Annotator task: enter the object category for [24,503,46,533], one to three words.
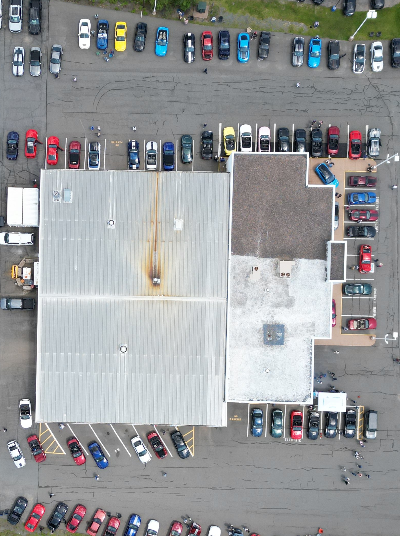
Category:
car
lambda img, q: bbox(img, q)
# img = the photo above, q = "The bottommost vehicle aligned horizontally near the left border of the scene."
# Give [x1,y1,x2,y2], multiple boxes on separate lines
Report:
[0,297,35,312]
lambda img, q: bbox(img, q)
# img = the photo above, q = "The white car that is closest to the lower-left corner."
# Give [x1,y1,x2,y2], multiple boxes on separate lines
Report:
[6,439,26,469]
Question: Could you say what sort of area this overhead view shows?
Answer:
parking lot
